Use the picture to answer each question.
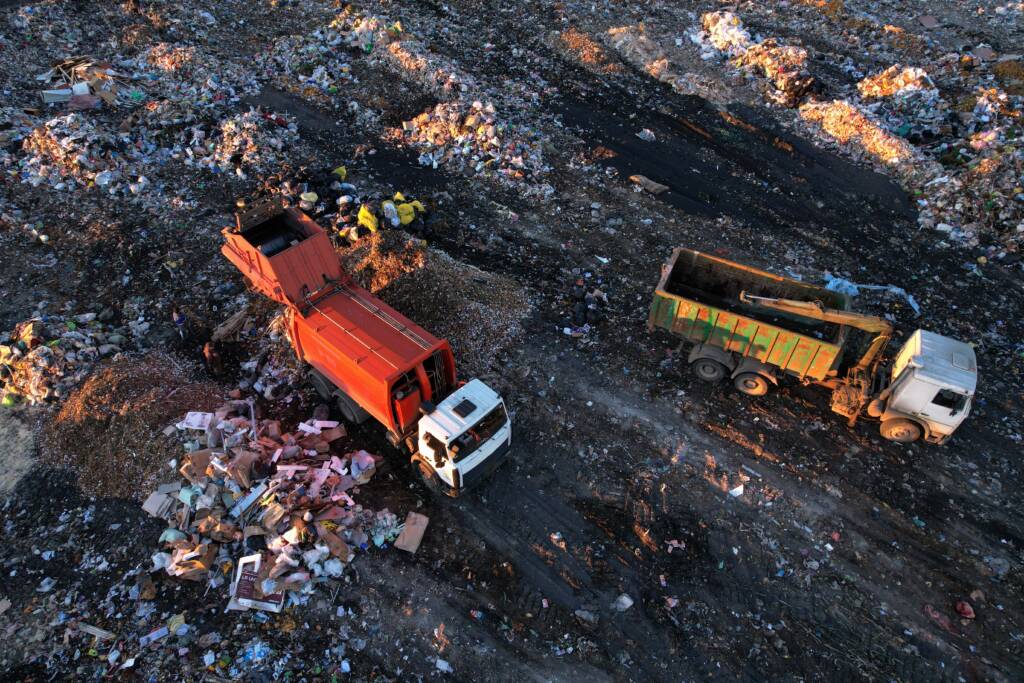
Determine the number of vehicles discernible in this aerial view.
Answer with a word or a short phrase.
2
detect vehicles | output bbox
[218,198,515,498]
[648,251,978,452]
